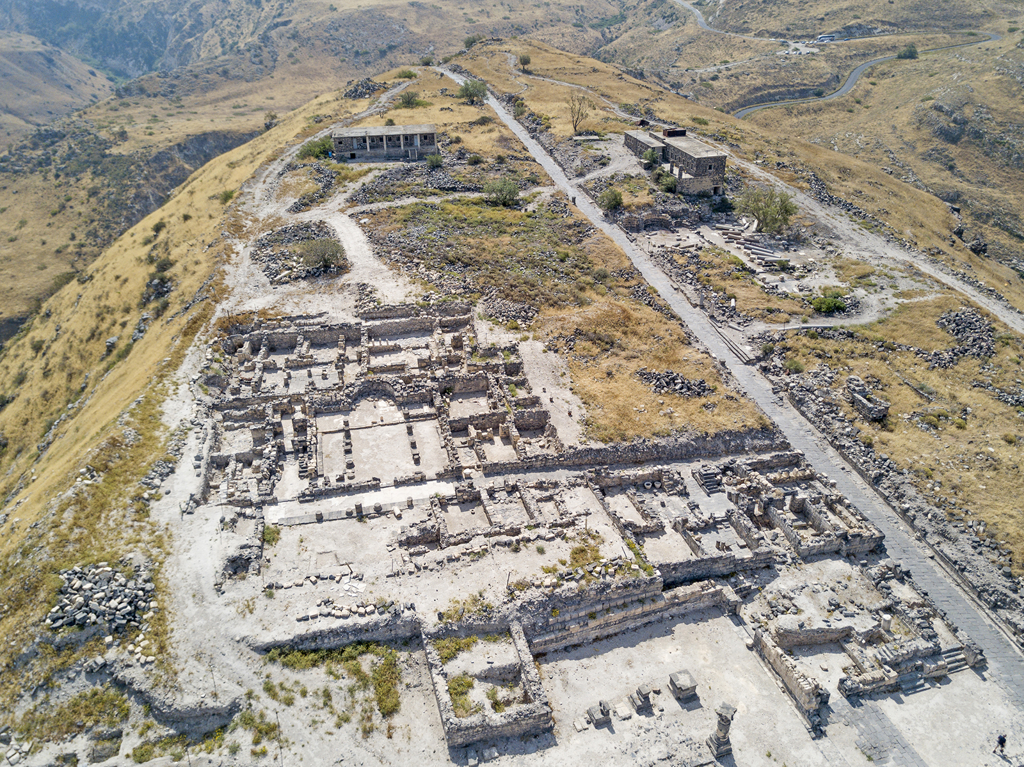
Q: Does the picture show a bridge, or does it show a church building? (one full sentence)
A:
Of the two, only a church building appears.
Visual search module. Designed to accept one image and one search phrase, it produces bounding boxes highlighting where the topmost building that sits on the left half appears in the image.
[332,124,438,161]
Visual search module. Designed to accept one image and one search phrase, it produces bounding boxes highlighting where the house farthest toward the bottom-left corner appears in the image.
[210,400,315,511]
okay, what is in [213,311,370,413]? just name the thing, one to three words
house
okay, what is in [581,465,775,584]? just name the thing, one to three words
house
